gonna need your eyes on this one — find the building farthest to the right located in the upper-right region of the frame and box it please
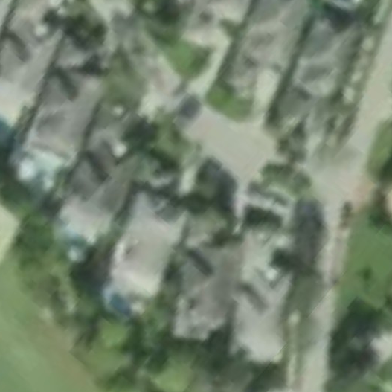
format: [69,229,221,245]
[278,2,371,130]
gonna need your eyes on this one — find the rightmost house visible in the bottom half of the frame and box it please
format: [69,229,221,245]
[230,257,295,362]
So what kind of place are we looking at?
residential area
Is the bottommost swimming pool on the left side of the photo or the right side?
left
